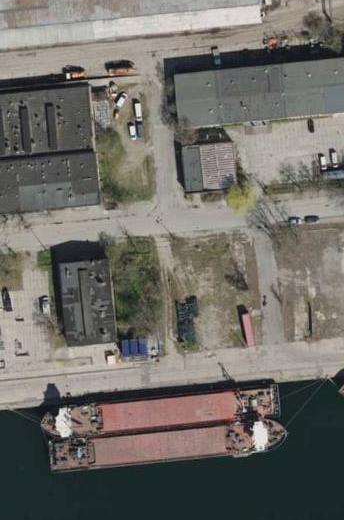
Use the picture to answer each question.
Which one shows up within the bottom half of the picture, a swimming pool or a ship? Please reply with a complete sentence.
What appears within the bottom half of the picture is a ship.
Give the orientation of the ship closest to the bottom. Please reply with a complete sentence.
The ship closest to the bottom has been laid out from left to right relative to the frame.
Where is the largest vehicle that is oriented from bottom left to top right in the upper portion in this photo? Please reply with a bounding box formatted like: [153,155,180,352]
[114,92,128,109]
